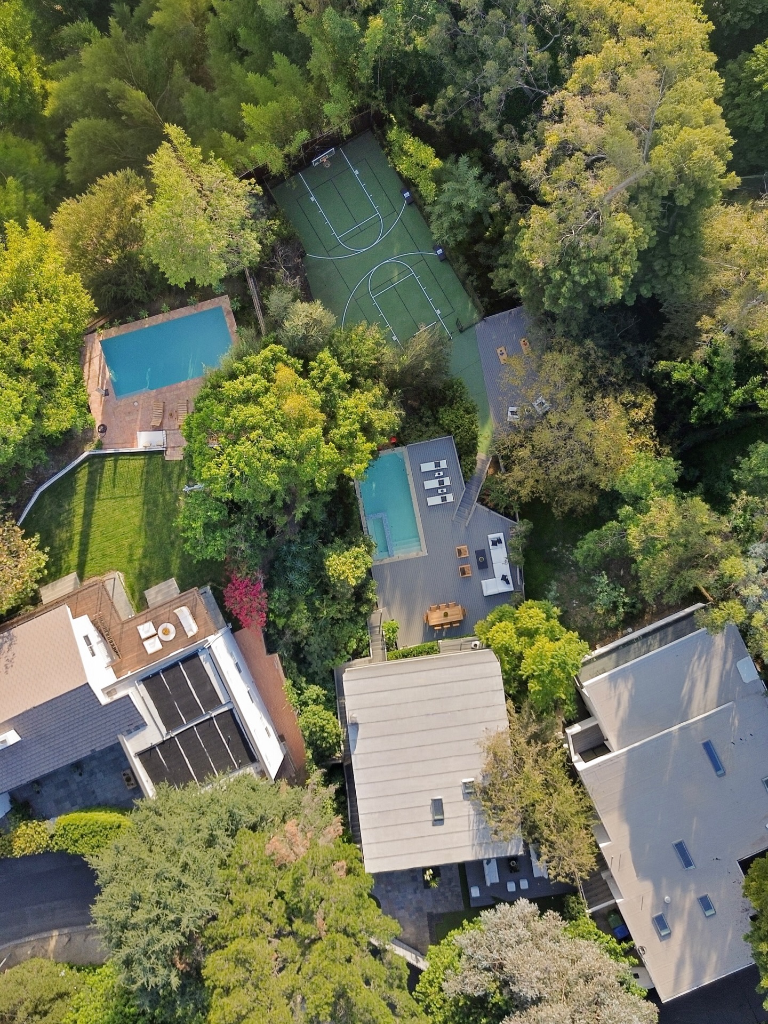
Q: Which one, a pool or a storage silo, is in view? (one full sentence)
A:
I can see a pool in this picture.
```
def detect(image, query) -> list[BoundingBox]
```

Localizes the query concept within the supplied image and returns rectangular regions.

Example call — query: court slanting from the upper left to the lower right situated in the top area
[271,133,491,456]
